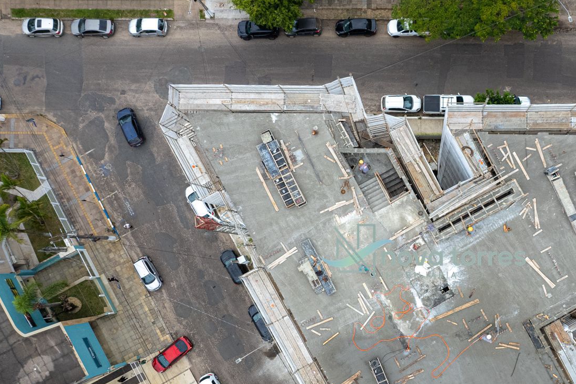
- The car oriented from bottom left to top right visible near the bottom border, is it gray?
No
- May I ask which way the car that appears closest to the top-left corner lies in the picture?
from side to side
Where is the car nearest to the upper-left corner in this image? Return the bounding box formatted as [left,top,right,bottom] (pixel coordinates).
[25,16,66,38]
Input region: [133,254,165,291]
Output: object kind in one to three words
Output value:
car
